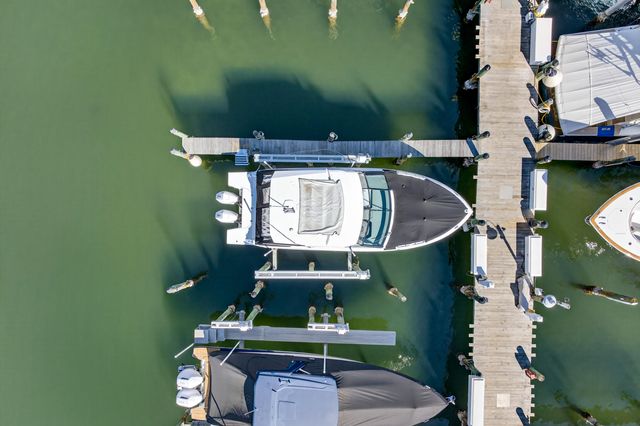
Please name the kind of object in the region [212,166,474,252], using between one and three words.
boat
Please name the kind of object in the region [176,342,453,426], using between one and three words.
boat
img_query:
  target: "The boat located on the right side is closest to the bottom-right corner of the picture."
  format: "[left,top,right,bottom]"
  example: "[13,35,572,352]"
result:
[584,181,640,264]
